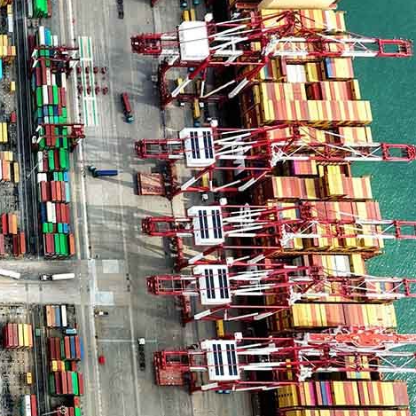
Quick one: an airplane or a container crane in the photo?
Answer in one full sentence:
This aerial view contains a container crane.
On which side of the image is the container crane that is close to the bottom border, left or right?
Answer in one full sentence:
The container crane that is close to the bottom border appears in the right half of the scene.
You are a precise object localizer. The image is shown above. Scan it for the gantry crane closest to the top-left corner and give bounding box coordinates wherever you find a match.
[21,48,80,84]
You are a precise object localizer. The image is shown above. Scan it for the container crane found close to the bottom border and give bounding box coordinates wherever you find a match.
[148,329,416,398]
